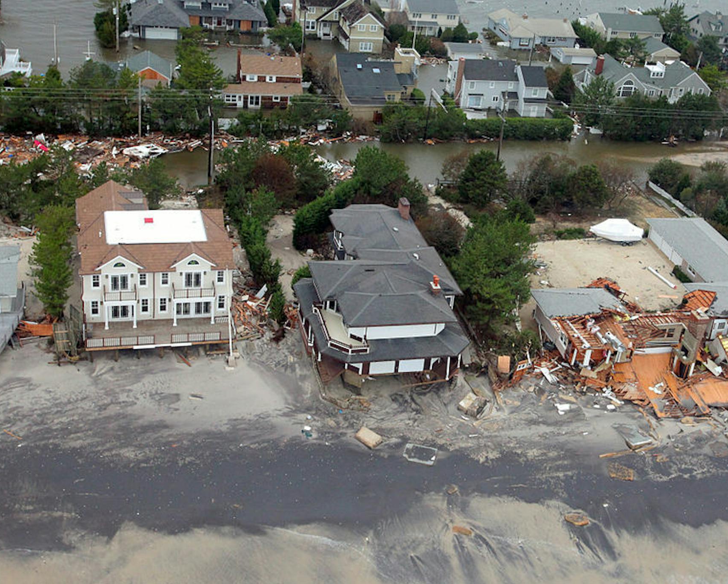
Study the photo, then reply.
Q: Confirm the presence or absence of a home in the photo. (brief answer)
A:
Yes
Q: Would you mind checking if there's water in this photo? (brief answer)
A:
Yes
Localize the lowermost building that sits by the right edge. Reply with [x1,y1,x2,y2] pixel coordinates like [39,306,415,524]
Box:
[532,210,728,419]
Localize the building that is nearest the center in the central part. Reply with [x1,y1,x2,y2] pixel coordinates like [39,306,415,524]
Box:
[294,196,470,387]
